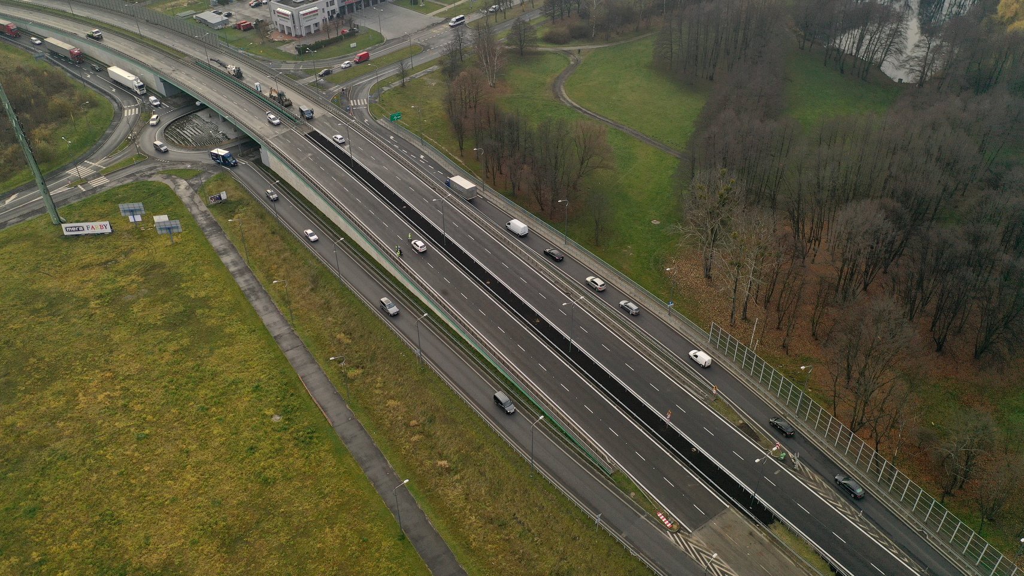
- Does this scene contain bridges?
Yes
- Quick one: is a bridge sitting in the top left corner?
Yes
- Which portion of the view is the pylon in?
top left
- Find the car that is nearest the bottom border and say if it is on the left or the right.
right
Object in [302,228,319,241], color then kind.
white vehicle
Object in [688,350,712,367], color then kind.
white vehicle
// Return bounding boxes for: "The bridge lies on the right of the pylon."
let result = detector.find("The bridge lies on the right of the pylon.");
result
[156,55,350,167]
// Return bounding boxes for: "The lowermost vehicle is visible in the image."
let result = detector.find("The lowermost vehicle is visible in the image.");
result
[833,473,867,500]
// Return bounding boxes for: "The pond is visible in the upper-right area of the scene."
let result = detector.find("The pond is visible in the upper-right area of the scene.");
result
[834,0,982,84]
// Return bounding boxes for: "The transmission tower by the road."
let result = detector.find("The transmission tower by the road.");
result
[0,62,63,226]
